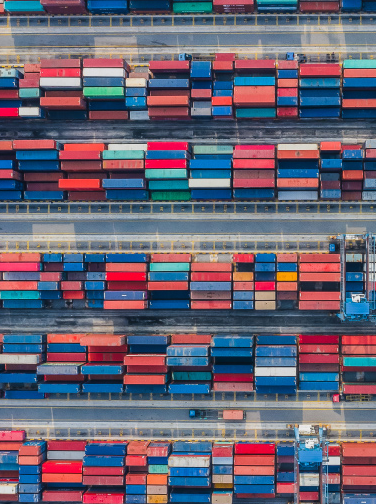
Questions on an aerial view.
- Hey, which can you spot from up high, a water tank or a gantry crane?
gantry crane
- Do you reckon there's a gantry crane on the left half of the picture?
No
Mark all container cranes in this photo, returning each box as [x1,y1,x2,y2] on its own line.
[324,231,374,322]
[283,424,329,504]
